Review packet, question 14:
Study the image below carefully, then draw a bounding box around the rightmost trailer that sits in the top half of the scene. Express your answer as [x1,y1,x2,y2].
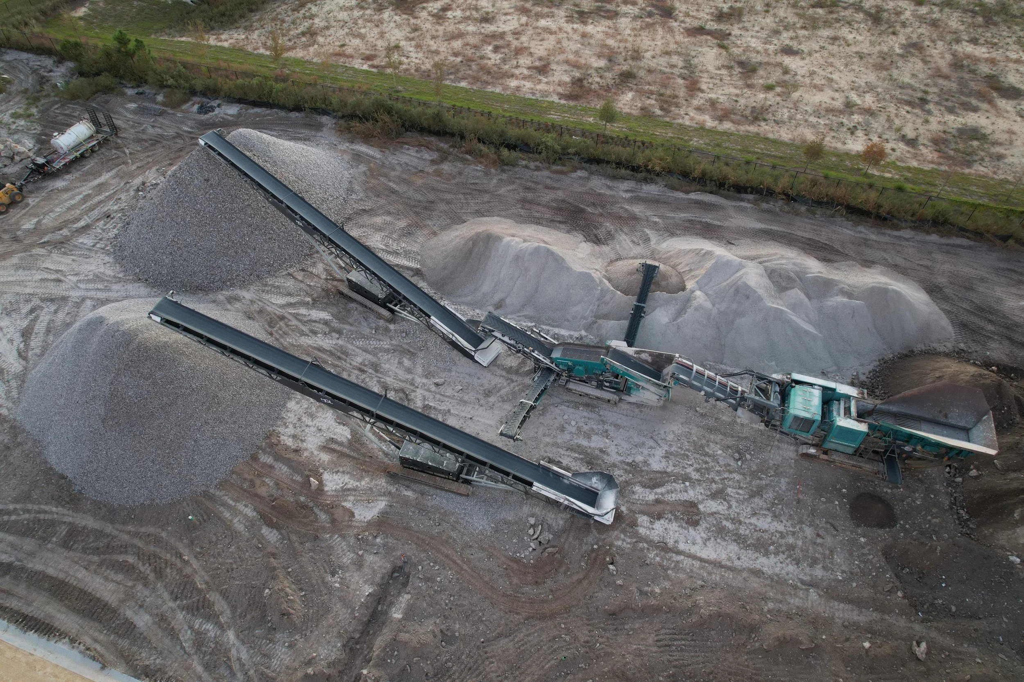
[12,113,123,187]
